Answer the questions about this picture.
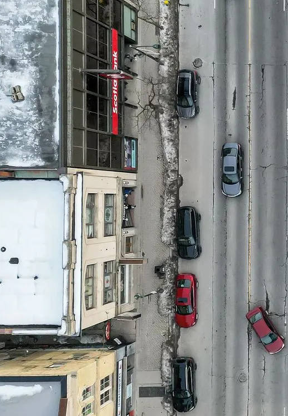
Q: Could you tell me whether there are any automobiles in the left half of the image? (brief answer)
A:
No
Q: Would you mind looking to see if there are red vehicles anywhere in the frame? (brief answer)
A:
Yes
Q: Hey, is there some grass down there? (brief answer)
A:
No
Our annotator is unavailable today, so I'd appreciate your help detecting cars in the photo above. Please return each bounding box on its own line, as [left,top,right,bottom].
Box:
[247,303,285,356]
[170,356,199,412]
[219,144,245,198]
[173,274,201,328]
[174,69,202,119]
[174,206,203,259]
